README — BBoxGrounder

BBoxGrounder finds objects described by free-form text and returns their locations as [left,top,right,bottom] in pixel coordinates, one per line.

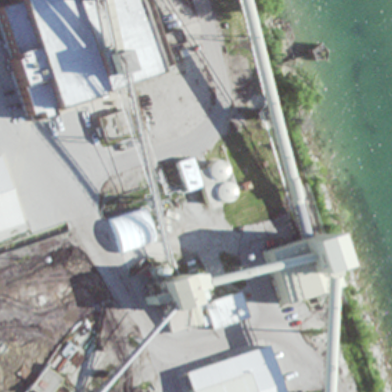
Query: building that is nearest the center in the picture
[172,158,203,192]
